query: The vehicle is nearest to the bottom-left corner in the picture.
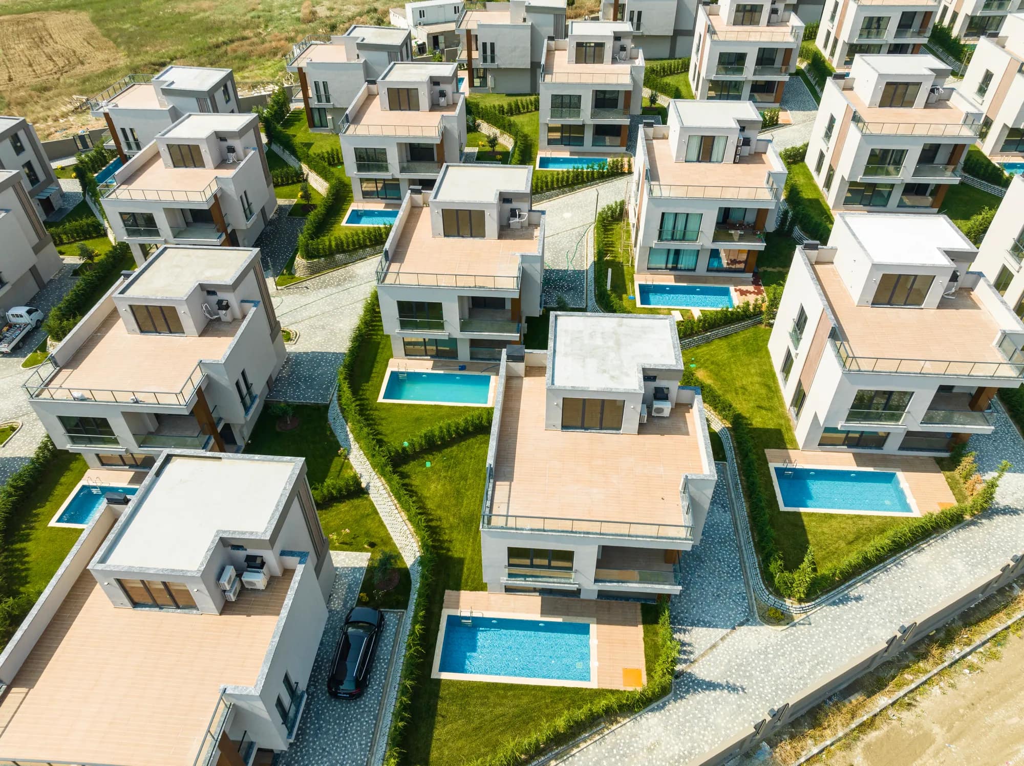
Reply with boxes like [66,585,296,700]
[328,610,383,700]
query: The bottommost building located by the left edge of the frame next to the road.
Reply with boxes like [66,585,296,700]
[0,449,337,766]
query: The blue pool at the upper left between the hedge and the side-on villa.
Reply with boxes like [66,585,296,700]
[92,155,121,187]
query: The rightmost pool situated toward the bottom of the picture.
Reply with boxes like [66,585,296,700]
[762,448,966,517]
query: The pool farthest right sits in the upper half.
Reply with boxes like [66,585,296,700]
[995,153,1024,175]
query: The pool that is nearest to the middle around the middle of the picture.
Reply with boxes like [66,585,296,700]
[377,358,501,407]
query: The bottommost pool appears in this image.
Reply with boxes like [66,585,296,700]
[431,591,646,692]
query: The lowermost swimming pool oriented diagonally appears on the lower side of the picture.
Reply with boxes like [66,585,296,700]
[49,468,149,528]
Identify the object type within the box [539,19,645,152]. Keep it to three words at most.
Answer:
house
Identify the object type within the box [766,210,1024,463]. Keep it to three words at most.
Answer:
house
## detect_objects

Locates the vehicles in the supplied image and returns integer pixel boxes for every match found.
[328,610,383,700]
[0,312,46,360]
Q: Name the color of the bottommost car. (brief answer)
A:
black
